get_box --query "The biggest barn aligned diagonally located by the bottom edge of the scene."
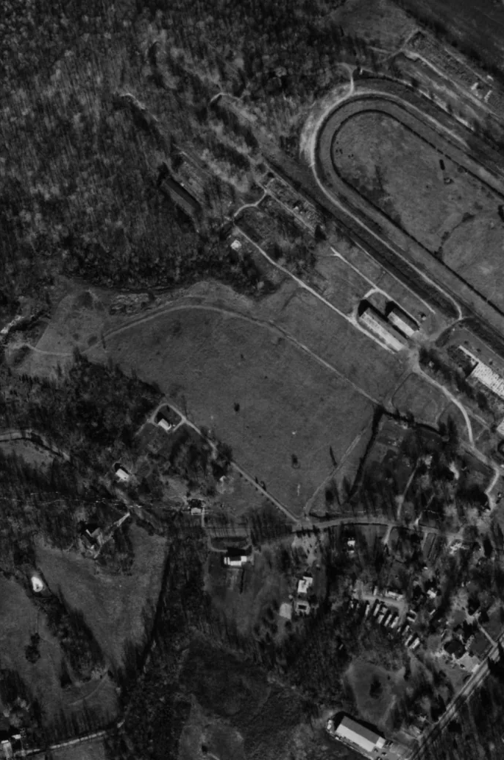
[335,716,379,753]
